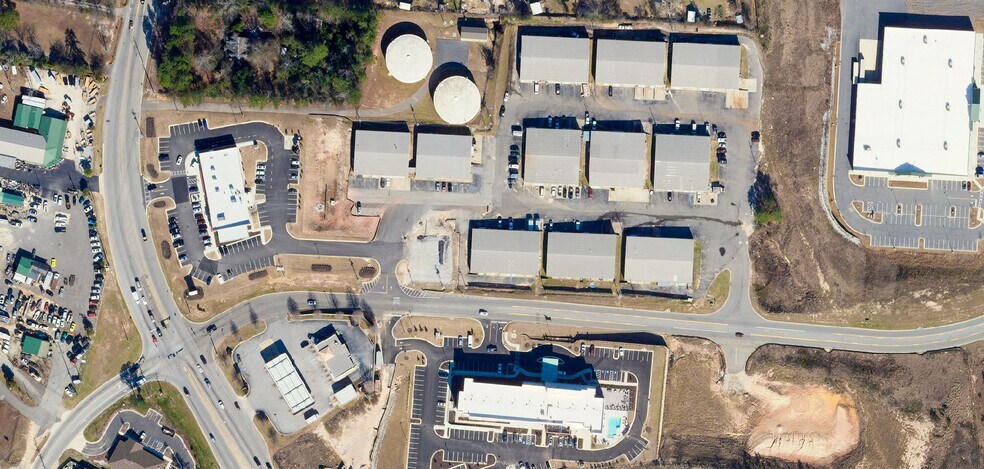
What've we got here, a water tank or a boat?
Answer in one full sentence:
Visible in the photo is a water tank.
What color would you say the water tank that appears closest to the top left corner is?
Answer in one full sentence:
The water tank that appears closest to the top left corner looks white in the image.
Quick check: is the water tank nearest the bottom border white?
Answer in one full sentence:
Yes, the water tank nearest the bottom border appears white.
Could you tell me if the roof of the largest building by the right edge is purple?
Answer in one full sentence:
No, the roof of the largest building by the right edge is actually white.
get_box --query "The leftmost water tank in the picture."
[385,35,432,83]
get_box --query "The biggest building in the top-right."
[851,26,983,177]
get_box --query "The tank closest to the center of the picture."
[433,76,480,123]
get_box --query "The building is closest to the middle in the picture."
[470,229,542,277]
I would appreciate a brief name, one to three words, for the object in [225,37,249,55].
house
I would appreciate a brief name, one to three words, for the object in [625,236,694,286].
building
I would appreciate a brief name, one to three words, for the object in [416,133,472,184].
building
